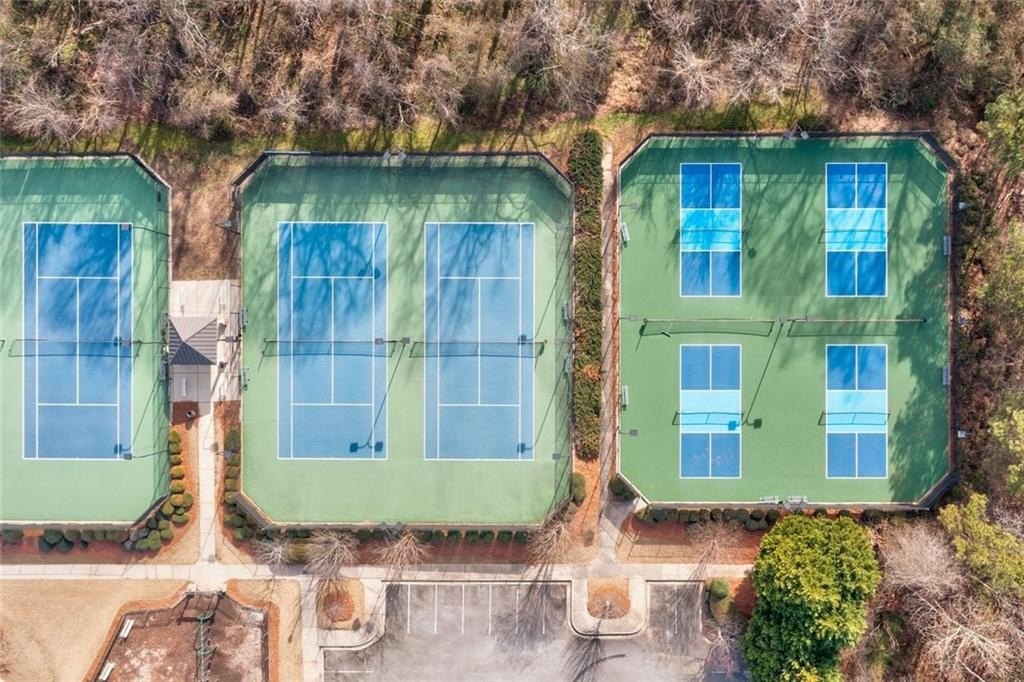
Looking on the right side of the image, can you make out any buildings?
No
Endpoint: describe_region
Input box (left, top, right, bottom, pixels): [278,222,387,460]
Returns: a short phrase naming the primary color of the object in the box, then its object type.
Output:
blue tennis court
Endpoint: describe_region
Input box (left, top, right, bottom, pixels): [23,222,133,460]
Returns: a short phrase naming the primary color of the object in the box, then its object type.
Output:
blue tennis court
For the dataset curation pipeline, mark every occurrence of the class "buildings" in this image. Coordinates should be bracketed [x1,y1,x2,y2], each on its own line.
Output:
[169,316,225,365]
